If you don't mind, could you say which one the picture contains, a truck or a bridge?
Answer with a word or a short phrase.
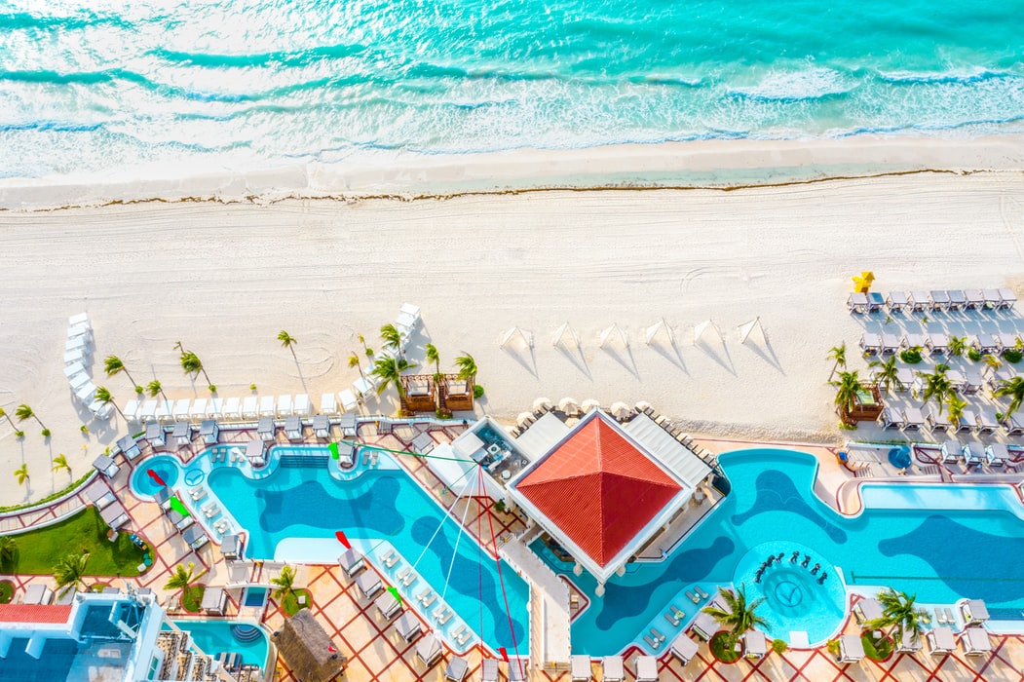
bridge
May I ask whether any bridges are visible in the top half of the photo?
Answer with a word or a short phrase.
No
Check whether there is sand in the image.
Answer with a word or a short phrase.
Yes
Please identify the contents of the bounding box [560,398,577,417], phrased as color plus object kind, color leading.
white umbrella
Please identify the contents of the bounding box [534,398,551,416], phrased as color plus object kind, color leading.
white umbrella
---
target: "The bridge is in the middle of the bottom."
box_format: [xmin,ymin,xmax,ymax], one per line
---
[493,538,571,671]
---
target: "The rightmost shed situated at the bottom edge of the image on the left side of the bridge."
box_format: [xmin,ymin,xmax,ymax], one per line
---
[271,607,347,682]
